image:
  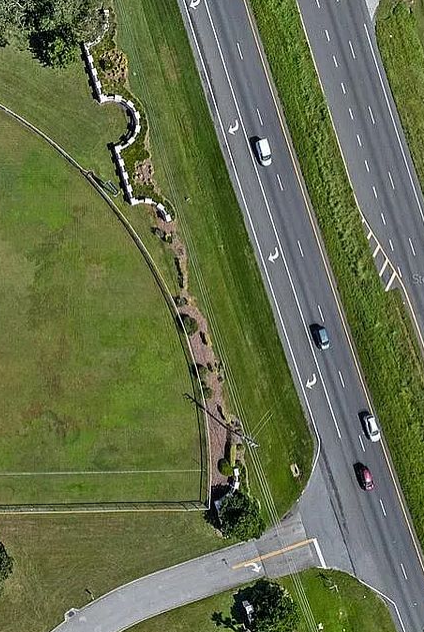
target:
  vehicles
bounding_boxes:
[356,464,373,490]
[254,138,272,167]
[314,324,331,350]
[363,413,381,442]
